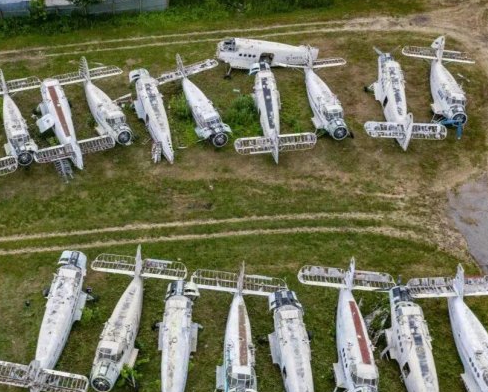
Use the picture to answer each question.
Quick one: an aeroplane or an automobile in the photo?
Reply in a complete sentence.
There is an aeroplane in the scene.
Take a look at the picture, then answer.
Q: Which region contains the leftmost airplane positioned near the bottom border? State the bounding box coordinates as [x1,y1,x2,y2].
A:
[0,250,97,392]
